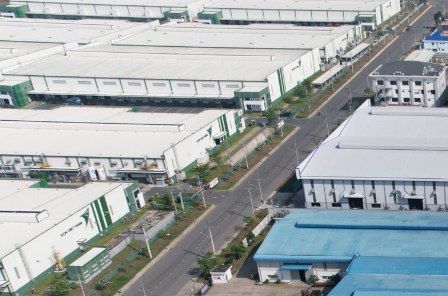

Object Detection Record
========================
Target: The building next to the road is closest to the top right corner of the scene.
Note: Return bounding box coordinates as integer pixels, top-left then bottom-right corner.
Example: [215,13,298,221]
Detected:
[423,34,448,52]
